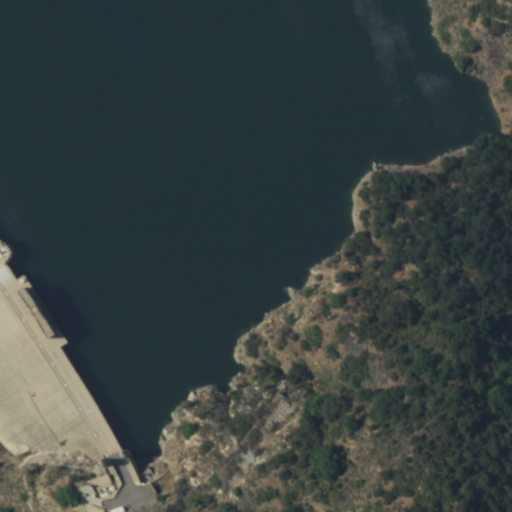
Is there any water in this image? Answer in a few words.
Yes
